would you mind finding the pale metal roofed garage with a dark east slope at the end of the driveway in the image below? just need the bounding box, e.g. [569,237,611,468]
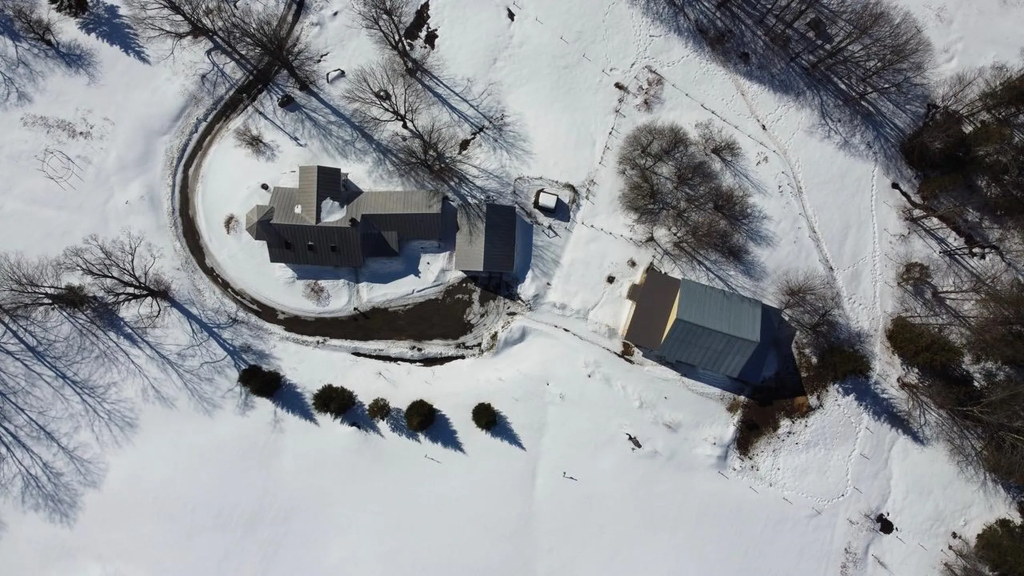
[454,202,516,272]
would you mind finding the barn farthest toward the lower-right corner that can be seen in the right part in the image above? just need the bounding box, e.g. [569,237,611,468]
[652,279,761,378]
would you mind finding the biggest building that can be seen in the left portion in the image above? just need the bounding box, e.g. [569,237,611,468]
[246,164,443,267]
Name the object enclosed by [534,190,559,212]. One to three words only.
shed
